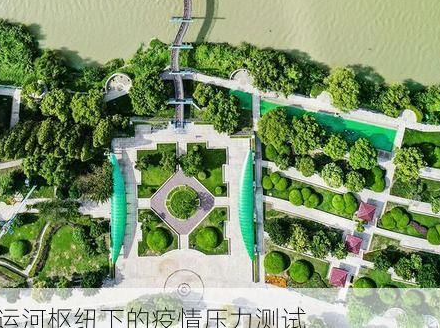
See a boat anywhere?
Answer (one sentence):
No, no boat is visible in the view.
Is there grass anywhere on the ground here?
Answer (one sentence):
Yes, the picture does contain grass.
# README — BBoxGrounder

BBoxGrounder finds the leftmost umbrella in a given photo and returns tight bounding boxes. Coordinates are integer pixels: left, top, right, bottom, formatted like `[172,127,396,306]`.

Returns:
[386,306,403,324]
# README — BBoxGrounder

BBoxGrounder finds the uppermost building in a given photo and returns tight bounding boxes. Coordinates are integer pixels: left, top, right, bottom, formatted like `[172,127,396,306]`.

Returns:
[355,198,376,222]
